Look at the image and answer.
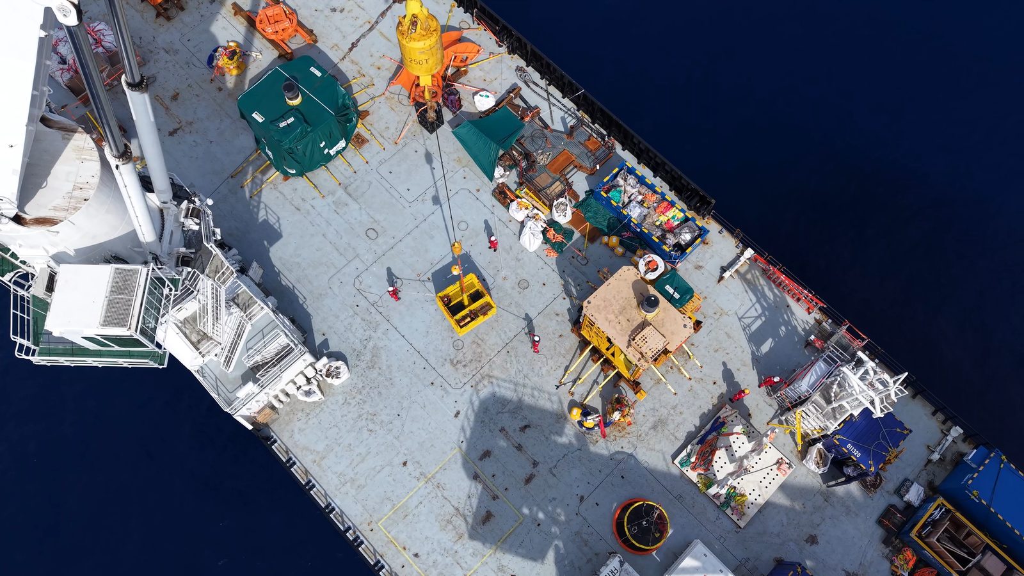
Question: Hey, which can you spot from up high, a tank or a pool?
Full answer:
This aerial view contains a tank.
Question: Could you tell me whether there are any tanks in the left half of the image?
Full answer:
No, there's no tank to be seen in the left half of the image.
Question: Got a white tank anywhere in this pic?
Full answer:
No, no white tank is visible in the view.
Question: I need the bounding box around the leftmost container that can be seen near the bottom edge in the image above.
[659,540,733,576]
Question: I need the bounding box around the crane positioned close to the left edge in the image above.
[0,0,199,370]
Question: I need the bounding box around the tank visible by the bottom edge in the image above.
[612,494,674,559]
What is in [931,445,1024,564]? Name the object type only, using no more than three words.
shipping container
